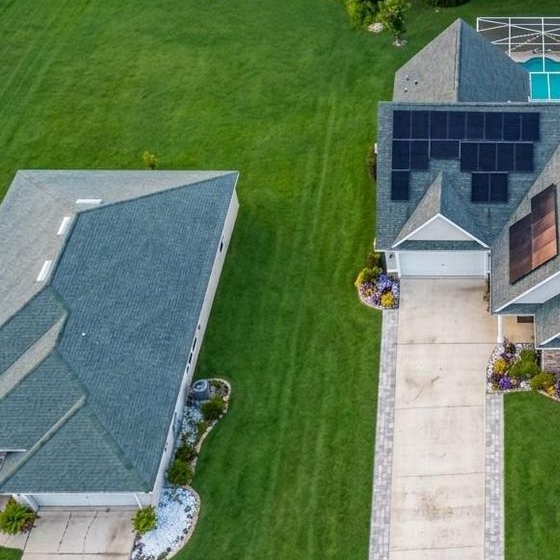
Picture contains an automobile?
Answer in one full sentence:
No, this view has no automobile in it.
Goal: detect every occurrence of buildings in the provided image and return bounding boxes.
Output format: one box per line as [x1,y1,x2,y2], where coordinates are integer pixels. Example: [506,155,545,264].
[373,17,560,373]
[0,169,240,508]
